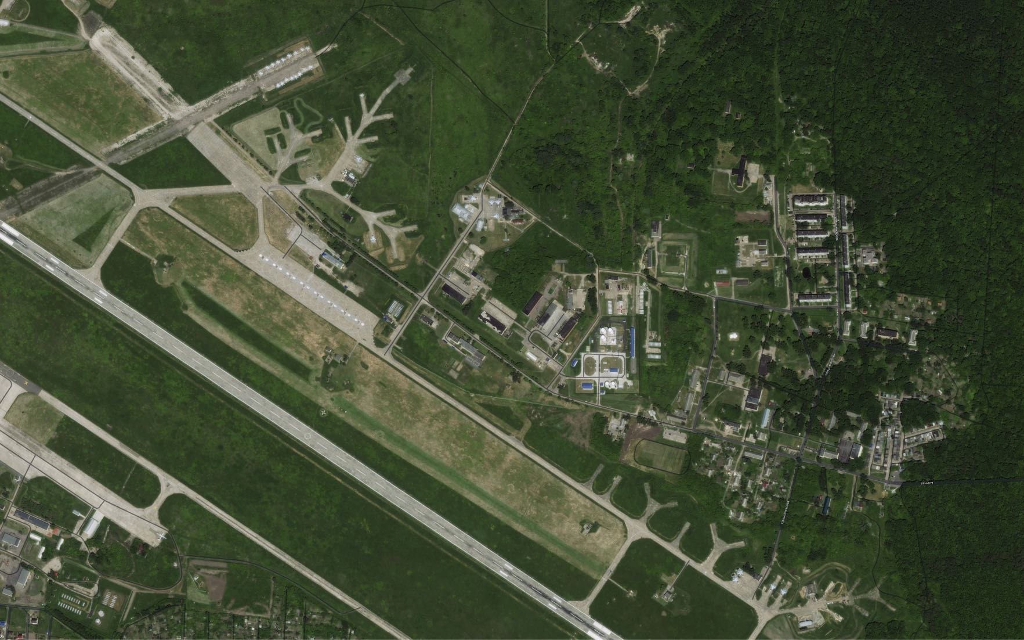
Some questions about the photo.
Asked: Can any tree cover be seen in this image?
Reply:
Yes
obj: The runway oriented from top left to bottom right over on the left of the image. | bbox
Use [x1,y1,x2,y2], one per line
[0,220,623,640]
